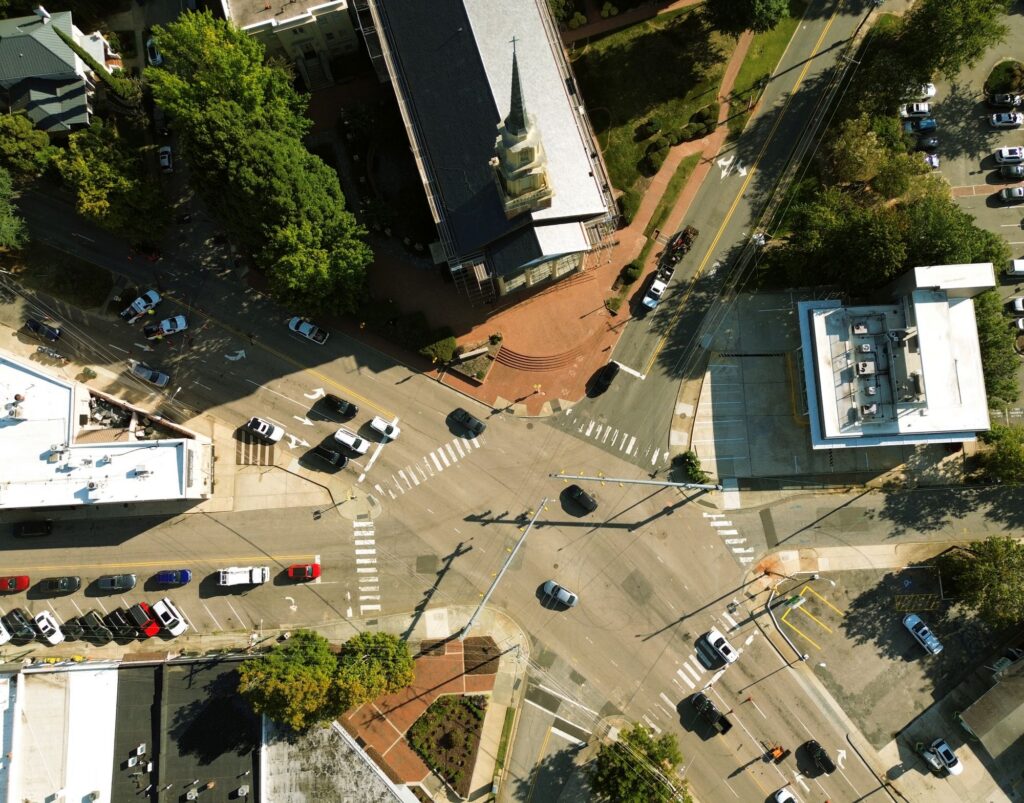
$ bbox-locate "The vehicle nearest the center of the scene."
[446,405,488,438]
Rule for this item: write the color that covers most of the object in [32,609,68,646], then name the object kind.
white car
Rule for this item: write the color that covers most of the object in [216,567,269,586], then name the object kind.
white vehicle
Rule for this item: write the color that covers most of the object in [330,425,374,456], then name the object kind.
white car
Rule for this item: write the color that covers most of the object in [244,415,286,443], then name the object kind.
white truck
